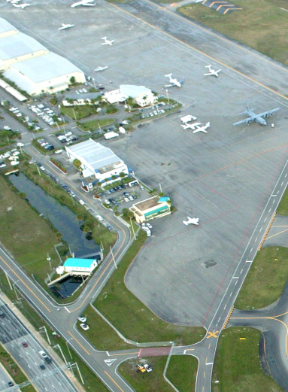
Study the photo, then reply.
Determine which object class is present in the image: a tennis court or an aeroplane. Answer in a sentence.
The image shows an aeroplane.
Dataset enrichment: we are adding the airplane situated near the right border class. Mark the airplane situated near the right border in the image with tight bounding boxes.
[234,98,283,124]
